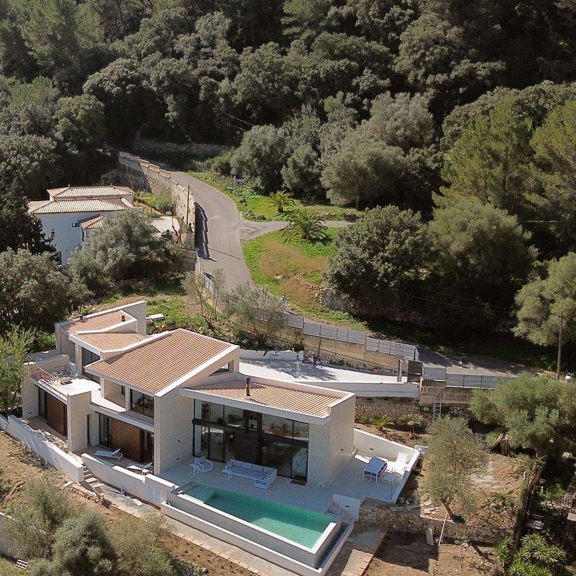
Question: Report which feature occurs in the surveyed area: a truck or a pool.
pool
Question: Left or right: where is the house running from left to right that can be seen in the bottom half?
left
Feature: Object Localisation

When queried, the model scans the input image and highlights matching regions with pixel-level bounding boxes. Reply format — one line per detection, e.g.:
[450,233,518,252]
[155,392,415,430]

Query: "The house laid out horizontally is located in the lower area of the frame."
[19,300,356,488]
